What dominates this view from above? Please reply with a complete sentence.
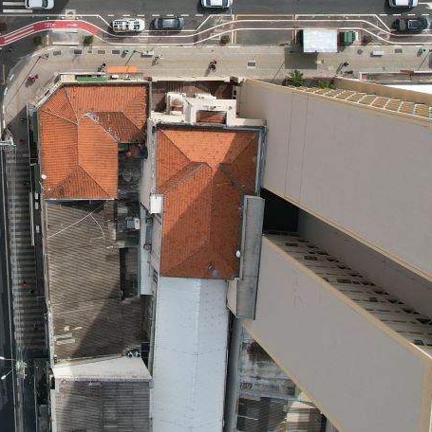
The scene is dominated by buildings.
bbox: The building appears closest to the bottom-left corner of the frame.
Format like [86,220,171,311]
[47,358,152,432]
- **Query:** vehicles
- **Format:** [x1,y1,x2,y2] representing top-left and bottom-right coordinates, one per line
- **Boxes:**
[200,0,232,9]
[153,17,184,31]
[392,17,428,32]
[386,0,416,8]
[112,17,144,32]
[24,0,54,10]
